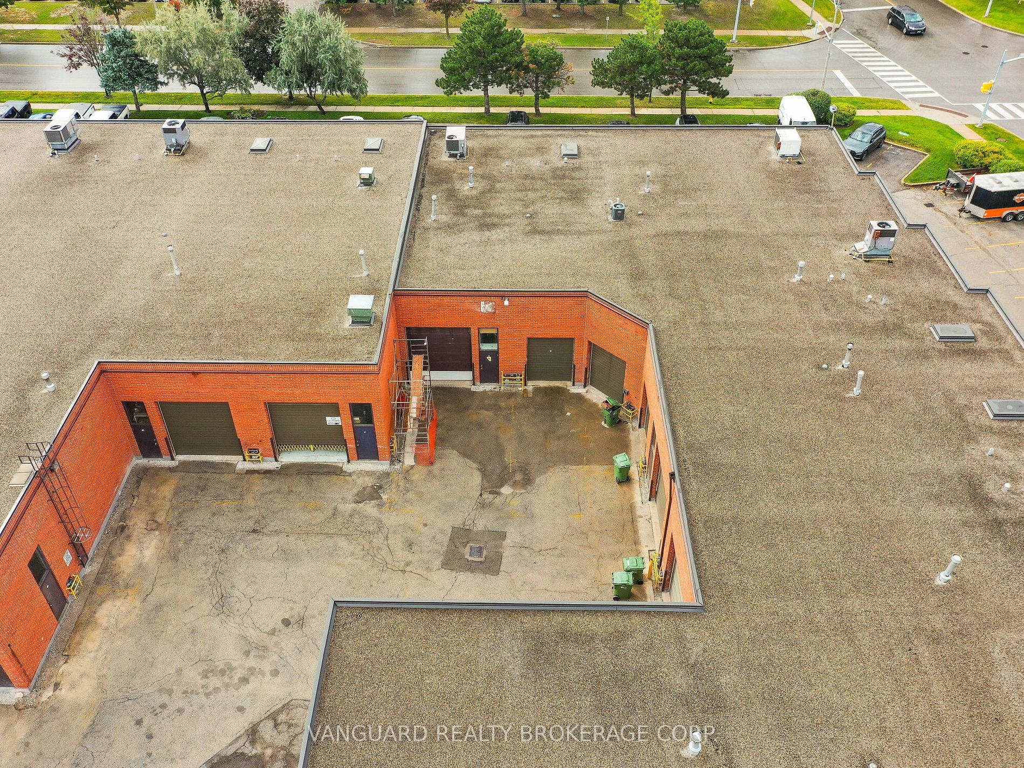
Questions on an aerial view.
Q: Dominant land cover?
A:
buildings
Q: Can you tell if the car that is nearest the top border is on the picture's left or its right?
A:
right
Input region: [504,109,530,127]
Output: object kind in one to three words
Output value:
car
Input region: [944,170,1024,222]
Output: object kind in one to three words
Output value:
trailer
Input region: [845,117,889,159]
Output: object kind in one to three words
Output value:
car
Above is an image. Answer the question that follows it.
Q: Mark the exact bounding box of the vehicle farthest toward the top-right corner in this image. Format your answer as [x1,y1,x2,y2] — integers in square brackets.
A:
[883,0,932,36]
